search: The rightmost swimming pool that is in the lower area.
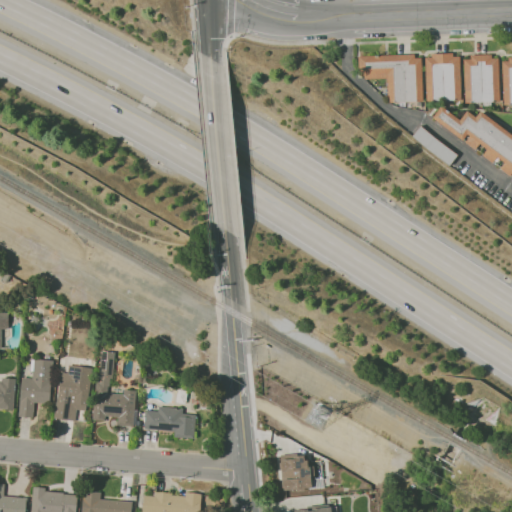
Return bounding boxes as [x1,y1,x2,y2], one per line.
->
[148,388,172,403]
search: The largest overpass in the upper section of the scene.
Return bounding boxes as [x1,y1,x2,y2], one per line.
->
[194,48,246,260]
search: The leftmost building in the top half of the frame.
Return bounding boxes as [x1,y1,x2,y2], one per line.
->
[359,55,424,103]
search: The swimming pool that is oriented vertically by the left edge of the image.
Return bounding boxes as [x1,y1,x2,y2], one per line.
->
[9,322,21,349]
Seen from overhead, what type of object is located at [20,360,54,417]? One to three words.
house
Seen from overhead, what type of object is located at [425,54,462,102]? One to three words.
building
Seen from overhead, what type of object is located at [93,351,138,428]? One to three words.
house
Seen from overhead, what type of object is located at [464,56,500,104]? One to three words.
building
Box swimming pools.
[9,322,21,349]
[148,388,172,403]
[123,360,133,378]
